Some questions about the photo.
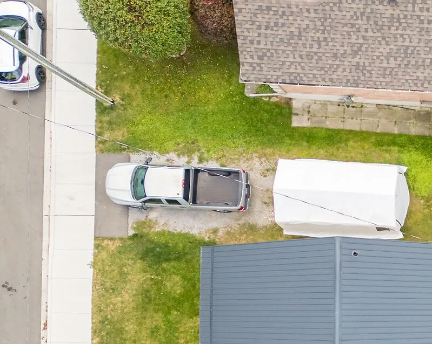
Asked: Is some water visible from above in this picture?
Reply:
No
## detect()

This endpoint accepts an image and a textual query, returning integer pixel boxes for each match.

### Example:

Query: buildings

[198,235,432,344]
[237,0,432,104]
